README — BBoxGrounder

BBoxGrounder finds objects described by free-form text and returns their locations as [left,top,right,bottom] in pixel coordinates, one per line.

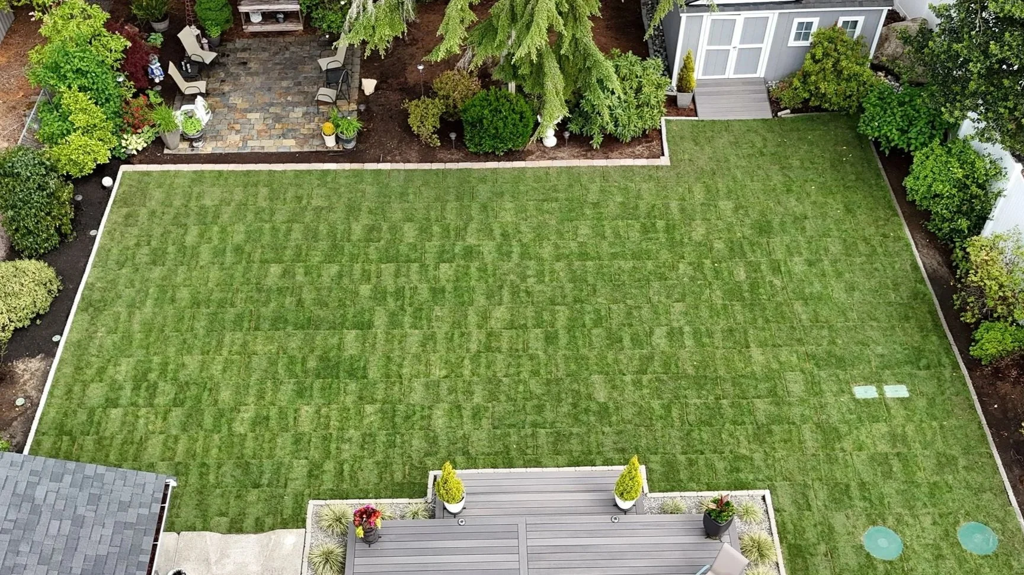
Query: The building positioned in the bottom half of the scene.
[0,447,177,575]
